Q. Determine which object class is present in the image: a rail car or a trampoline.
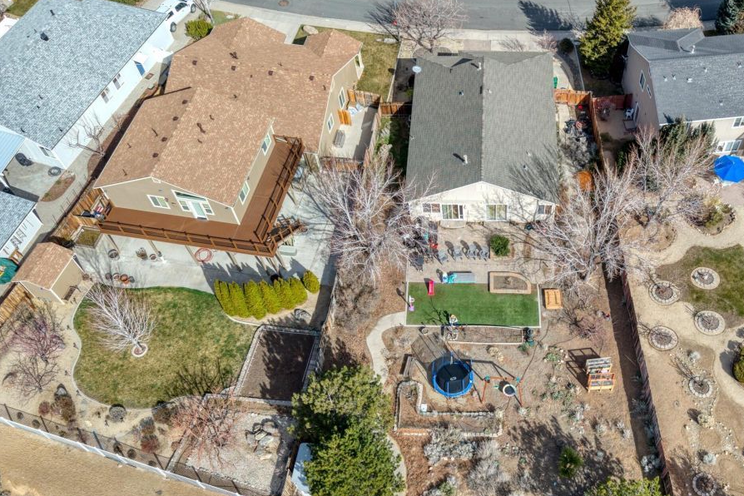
trampoline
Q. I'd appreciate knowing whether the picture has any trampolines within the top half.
No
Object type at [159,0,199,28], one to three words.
truck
